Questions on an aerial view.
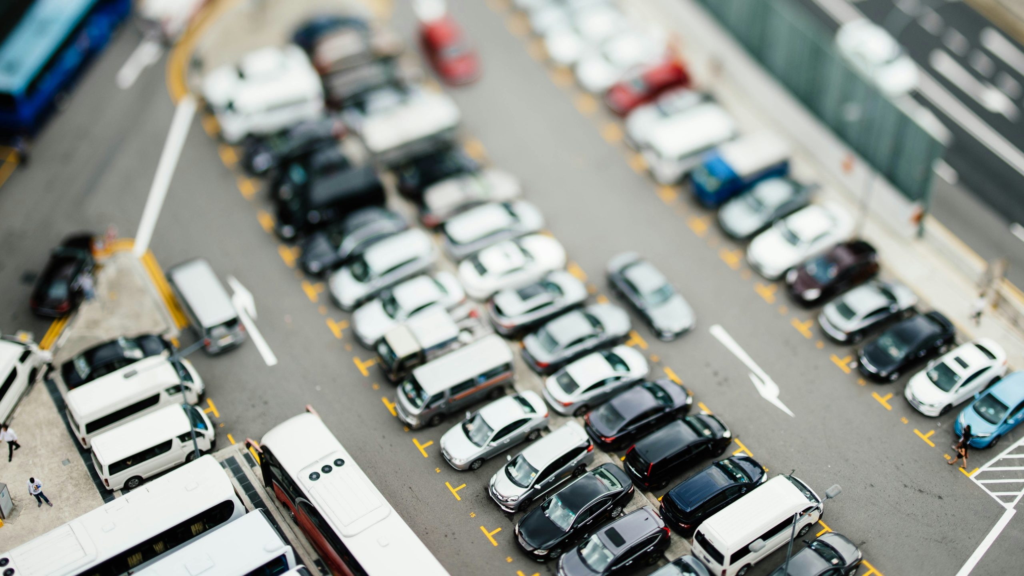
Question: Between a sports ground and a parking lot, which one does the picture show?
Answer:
parking lot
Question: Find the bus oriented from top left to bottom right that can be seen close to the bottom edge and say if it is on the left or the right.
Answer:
left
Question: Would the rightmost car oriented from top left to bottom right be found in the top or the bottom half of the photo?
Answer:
top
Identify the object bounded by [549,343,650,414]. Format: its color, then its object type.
white car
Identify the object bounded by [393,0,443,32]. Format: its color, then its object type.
white car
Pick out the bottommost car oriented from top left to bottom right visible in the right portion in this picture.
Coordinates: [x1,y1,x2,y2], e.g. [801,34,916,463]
[610,257,690,342]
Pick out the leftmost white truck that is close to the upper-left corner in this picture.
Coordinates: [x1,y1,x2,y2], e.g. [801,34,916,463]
[135,0,205,46]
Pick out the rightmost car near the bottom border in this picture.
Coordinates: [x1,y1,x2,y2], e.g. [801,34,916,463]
[759,532,862,576]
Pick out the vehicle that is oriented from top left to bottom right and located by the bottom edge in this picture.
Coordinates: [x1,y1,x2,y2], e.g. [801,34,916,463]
[241,401,447,576]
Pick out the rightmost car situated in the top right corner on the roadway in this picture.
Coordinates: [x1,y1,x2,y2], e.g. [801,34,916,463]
[843,12,920,81]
